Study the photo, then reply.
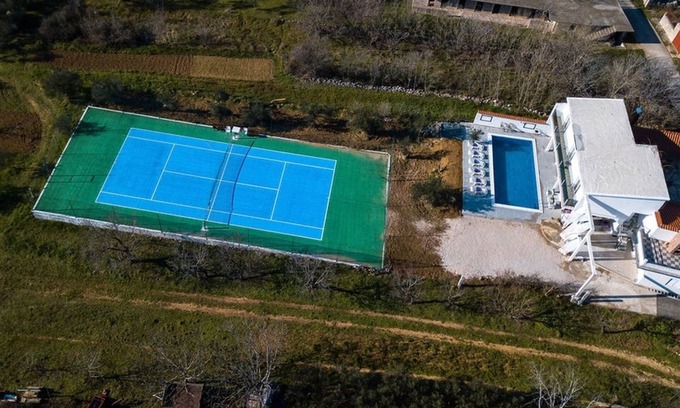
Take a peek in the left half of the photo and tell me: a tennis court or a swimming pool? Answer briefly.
tennis court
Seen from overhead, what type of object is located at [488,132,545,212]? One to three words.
swimming pool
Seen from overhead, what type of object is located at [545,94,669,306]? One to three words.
house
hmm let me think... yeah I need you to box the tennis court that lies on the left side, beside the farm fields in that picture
[31,104,390,270]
